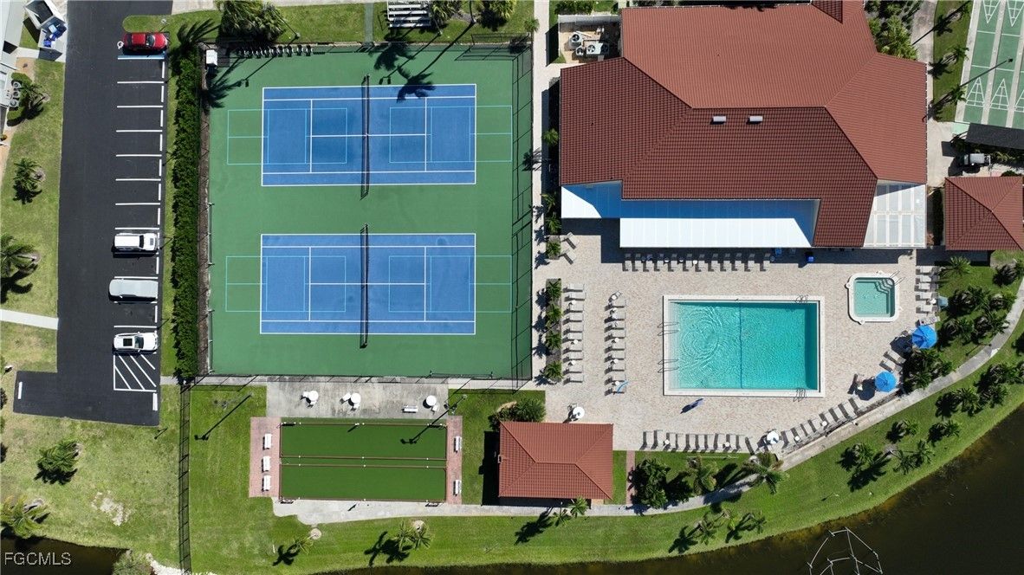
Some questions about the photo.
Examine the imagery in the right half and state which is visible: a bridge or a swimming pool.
swimming pool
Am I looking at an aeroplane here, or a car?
car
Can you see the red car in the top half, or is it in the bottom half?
top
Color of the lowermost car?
white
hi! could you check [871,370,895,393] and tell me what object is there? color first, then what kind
blue umbrella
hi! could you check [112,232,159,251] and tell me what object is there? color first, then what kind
white car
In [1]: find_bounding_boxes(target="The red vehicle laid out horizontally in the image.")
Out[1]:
[122,29,170,51]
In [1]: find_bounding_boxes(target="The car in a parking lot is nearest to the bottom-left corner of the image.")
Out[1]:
[112,332,160,353]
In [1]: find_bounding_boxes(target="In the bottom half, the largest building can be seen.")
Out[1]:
[498,420,614,501]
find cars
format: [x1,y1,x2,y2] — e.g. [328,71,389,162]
[112,332,160,353]
[122,29,170,51]
[108,279,158,301]
[112,232,159,251]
